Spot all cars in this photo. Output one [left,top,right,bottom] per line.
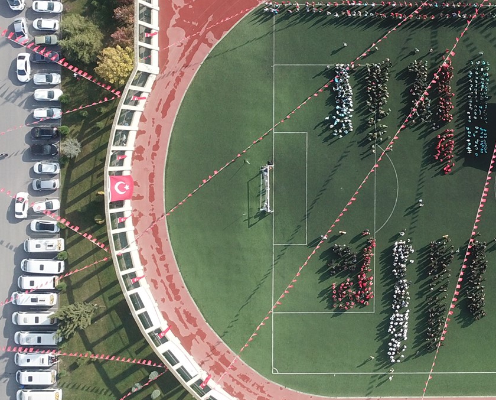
[34,162,61,175]
[33,198,62,212]
[33,89,63,102]
[33,106,63,120]
[31,219,62,234]
[33,18,60,31]
[32,126,61,140]
[31,143,60,156]
[34,72,62,85]
[16,192,30,218]
[33,177,61,192]
[31,49,62,63]
[33,33,60,47]
[17,53,32,82]
[32,0,64,14]
[13,18,32,44]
